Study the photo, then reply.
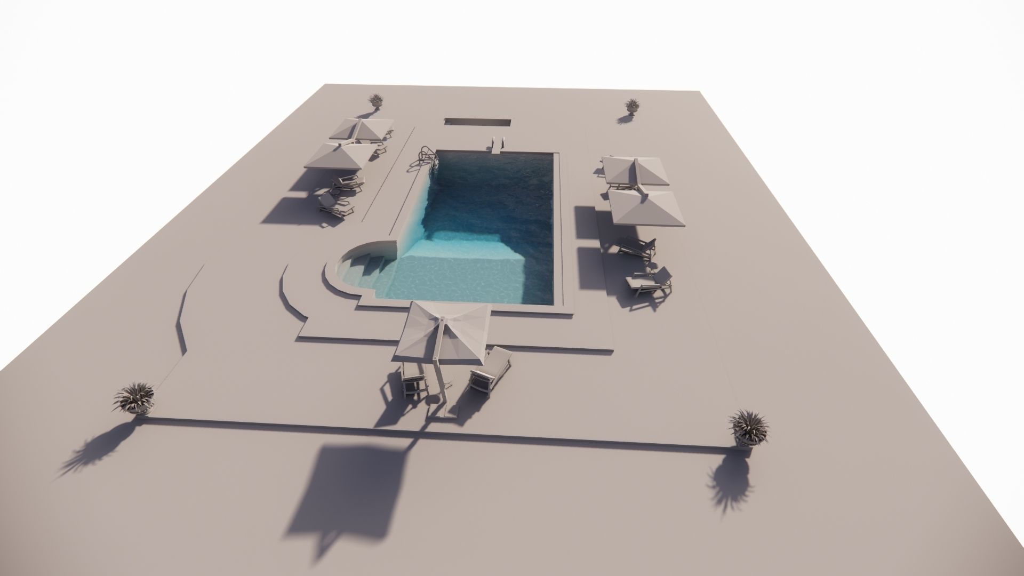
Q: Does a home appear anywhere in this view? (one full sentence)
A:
No, I can see no home in this picture.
